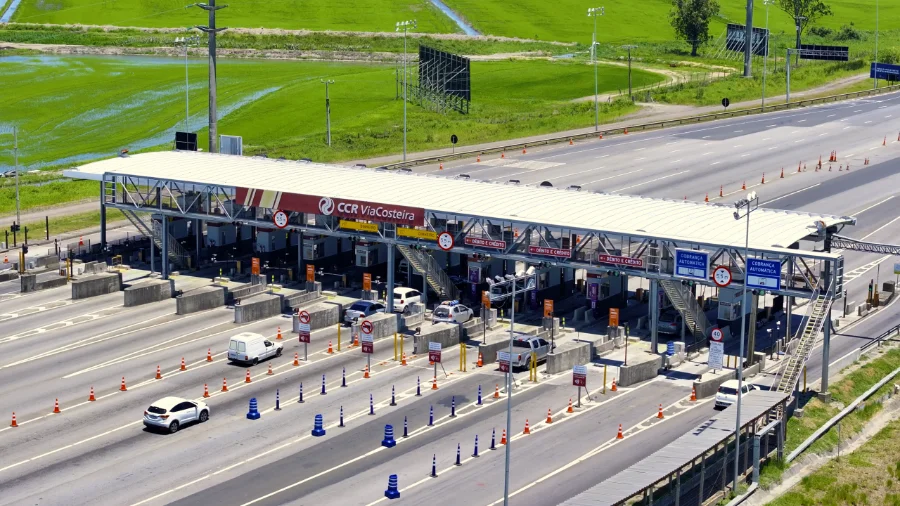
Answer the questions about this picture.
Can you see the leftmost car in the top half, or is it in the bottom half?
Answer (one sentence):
Seen from above, the leftmost car lies in the bottom half of the view.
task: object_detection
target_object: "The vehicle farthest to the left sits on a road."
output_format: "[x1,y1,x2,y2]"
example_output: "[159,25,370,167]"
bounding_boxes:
[150,394,216,430]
